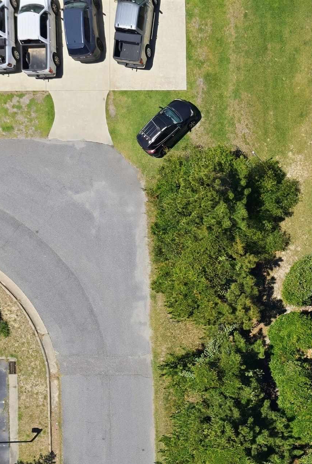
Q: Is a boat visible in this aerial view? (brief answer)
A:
No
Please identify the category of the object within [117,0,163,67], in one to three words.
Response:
vehicle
